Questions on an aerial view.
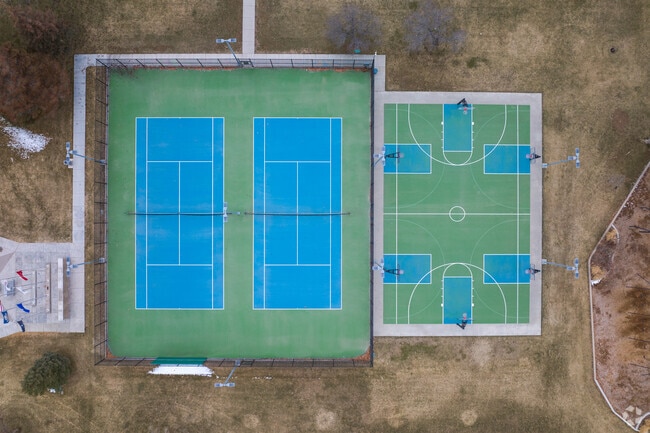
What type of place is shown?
sports ground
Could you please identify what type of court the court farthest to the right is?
basketball court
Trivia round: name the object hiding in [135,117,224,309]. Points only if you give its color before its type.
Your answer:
blue tennis court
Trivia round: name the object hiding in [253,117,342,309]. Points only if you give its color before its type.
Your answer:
blue tennis court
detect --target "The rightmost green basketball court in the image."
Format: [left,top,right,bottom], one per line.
[384,104,531,324]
